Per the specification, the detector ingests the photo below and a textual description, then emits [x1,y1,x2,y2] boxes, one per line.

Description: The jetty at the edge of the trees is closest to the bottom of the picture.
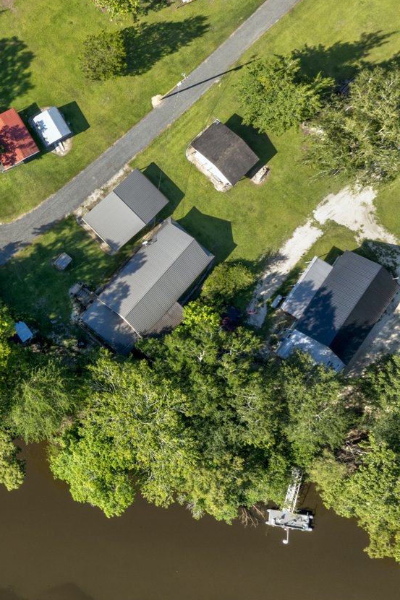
[263,509,314,542]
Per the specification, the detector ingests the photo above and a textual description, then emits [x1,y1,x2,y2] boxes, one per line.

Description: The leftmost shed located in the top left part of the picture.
[0,107,38,171]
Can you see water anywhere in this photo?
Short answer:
Yes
